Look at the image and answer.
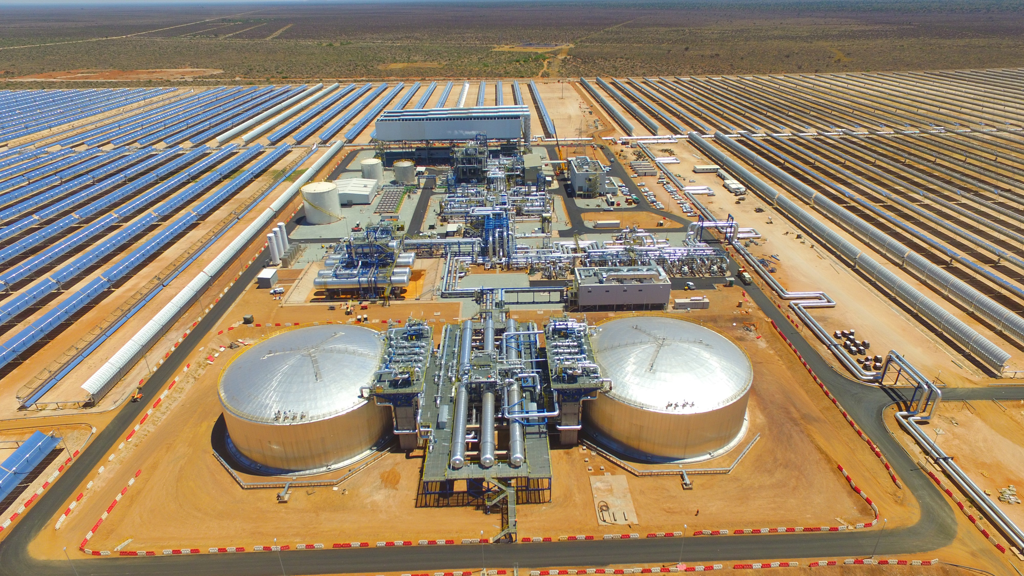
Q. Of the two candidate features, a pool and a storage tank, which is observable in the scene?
storage tank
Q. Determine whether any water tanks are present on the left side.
Yes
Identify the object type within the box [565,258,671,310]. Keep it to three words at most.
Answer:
building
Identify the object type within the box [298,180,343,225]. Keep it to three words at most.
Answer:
water tank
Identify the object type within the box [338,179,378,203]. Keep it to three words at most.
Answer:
shed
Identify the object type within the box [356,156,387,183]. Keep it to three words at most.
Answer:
water tank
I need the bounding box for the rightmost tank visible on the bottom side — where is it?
[577,312,753,468]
